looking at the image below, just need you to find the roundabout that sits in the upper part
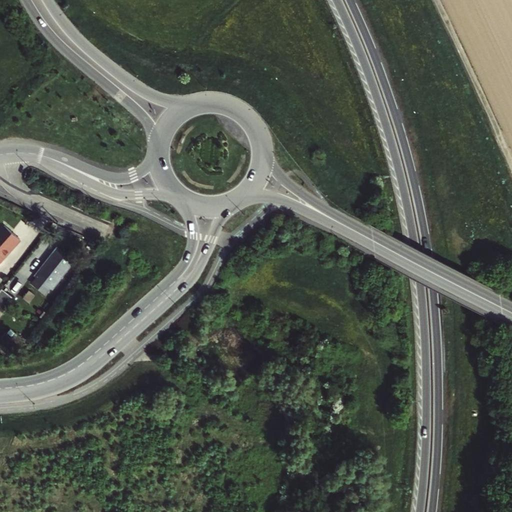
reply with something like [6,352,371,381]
[147,91,274,218]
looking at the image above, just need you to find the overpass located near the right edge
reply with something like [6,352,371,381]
[326,205,512,324]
